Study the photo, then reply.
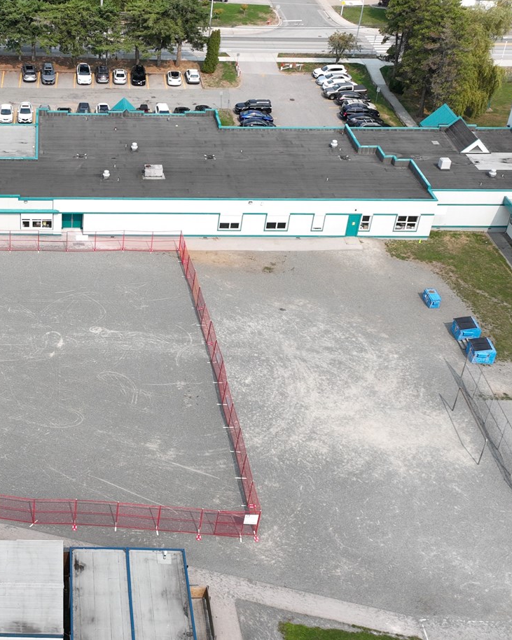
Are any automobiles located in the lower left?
No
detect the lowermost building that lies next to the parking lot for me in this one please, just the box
[0,90,512,243]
